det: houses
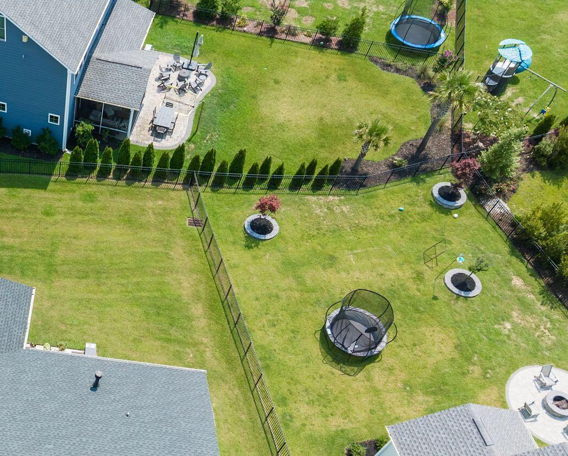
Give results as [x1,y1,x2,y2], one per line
[0,278,220,456]
[375,403,568,456]
[0,0,159,153]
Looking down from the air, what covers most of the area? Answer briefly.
grass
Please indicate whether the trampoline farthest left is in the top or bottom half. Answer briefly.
bottom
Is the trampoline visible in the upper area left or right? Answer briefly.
right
